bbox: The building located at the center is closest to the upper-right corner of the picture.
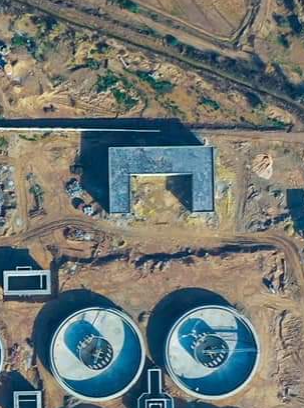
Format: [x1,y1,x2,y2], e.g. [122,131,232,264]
[103,146,215,219]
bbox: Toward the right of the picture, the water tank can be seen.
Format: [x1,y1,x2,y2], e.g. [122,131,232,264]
[162,306,260,400]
